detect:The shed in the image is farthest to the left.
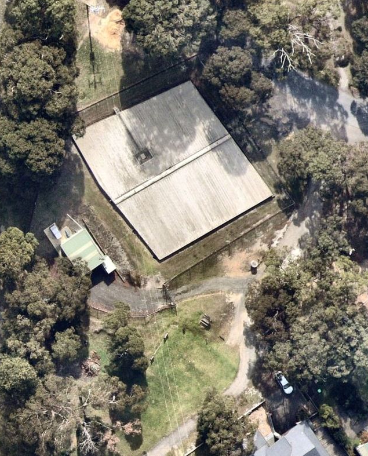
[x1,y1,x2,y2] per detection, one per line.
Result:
[61,229,105,270]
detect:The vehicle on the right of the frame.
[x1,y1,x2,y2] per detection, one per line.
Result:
[278,380,292,394]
